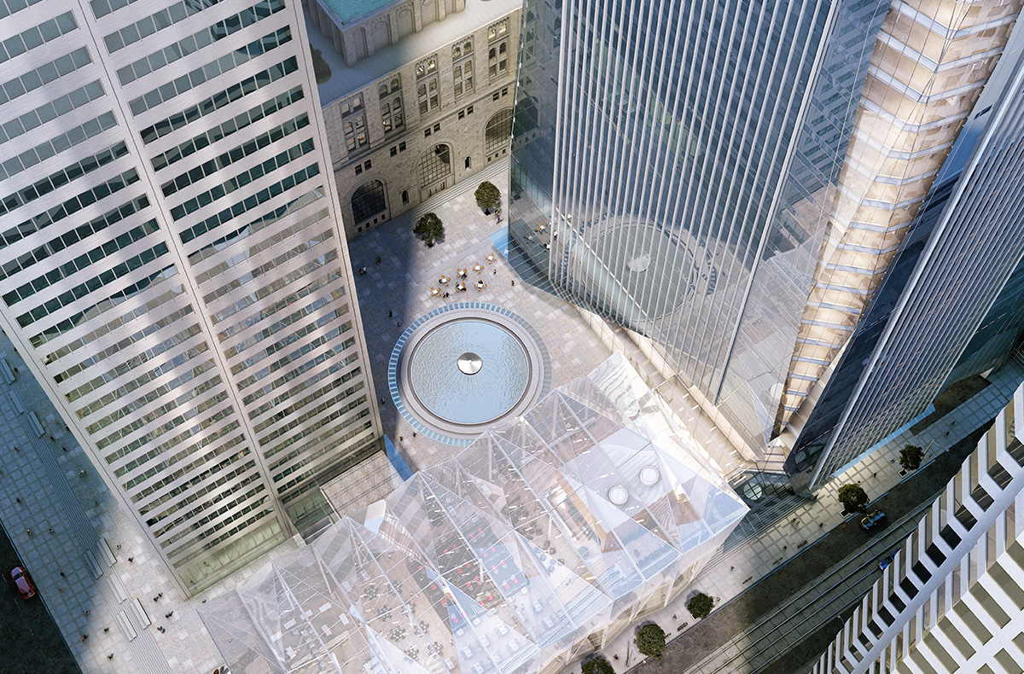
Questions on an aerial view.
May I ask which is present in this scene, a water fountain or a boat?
water fountain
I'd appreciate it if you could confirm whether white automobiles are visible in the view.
No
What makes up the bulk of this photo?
buildings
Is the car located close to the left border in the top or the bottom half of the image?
bottom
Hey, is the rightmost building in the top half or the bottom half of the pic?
bottom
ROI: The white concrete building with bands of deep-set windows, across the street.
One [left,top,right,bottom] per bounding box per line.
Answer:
[804,378,1024,674]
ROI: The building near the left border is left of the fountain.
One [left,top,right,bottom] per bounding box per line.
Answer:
[0,0,389,603]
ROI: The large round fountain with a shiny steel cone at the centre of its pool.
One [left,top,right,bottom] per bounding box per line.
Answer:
[388,300,552,445]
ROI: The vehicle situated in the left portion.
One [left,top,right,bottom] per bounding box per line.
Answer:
[9,565,39,606]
